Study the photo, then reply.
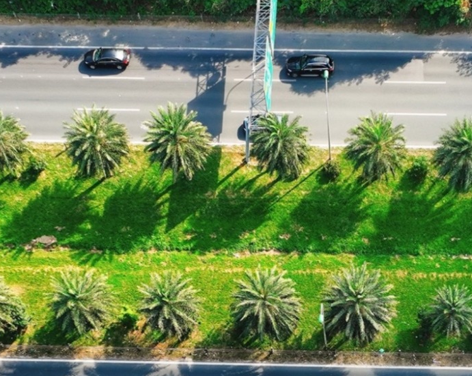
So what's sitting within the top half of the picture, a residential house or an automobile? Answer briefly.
automobile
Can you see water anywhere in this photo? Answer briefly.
No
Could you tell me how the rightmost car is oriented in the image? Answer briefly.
horizontally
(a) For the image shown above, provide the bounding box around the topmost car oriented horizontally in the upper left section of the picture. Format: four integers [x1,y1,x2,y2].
[83,48,133,71]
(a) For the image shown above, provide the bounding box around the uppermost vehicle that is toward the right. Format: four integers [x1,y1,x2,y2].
[287,56,335,80]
